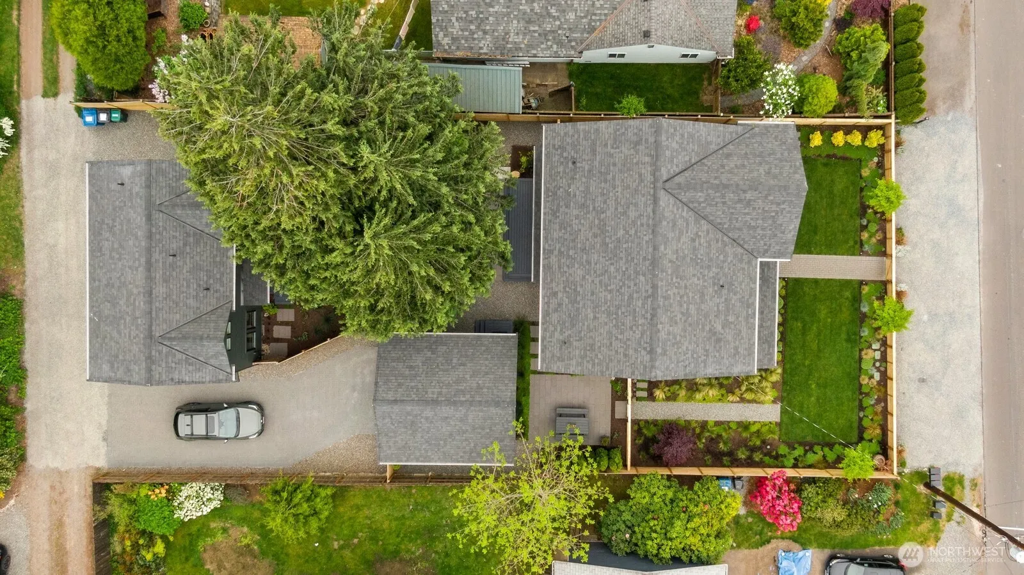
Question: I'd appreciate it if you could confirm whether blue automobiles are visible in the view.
No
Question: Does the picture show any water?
No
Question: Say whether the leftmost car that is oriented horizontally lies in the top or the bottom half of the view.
bottom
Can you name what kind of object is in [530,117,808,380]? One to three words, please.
house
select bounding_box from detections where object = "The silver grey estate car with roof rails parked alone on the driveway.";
[175,400,266,443]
